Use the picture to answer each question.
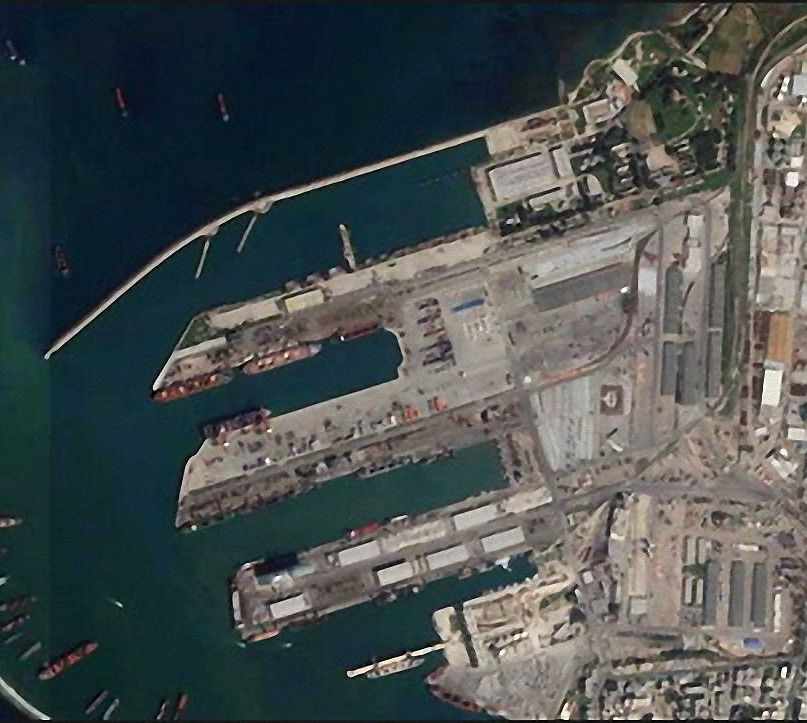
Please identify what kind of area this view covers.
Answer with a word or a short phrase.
port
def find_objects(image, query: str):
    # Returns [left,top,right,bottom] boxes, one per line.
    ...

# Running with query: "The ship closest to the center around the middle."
[338,324,379,341]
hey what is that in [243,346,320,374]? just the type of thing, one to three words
ship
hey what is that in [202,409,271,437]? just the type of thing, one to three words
ship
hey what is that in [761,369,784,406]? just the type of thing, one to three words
building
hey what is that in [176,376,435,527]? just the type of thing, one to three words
pier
